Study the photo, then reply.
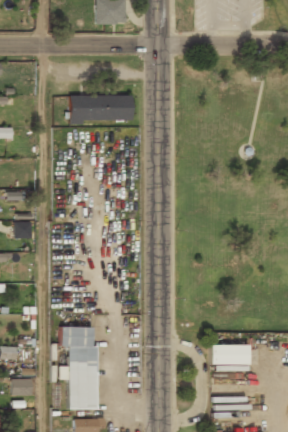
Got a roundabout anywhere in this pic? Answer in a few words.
No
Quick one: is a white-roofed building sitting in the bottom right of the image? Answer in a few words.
Yes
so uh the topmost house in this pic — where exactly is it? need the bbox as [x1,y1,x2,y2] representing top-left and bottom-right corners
[94,0,126,25]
